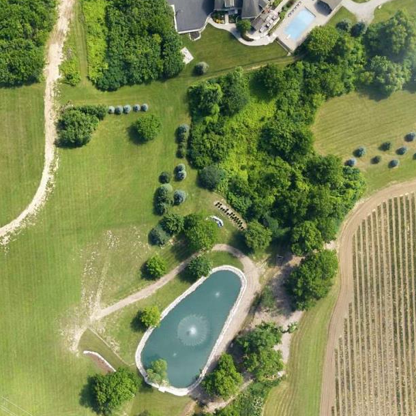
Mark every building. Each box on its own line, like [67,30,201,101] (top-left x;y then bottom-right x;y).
[212,0,274,22]
[318,0,342,13]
